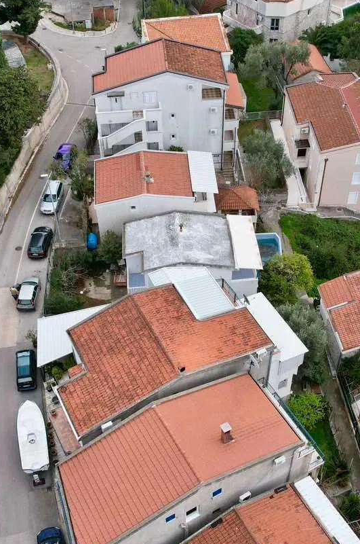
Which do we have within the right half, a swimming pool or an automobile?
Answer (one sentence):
Looking within the right half, you will find a swimming pool.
